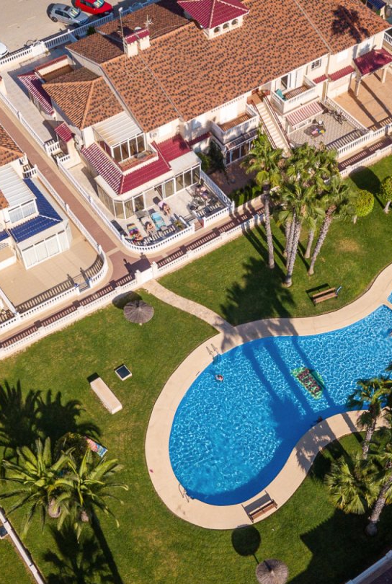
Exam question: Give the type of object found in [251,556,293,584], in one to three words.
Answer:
umbrella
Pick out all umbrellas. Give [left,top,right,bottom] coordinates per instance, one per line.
[122,299,155,329]
[251,556,293,584]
